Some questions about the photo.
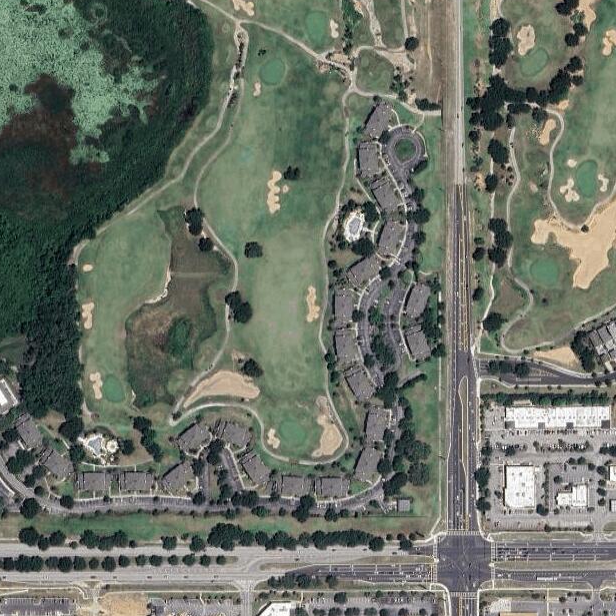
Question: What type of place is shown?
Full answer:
The picture captures a golf course.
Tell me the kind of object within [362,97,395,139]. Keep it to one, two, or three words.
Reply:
building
